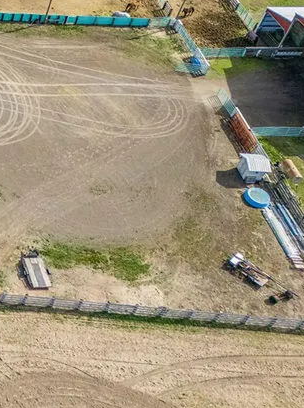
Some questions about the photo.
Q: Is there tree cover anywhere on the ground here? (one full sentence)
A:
No, the picture contains no tree cover.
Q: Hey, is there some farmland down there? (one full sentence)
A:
Yes, farmland shows up in the scene.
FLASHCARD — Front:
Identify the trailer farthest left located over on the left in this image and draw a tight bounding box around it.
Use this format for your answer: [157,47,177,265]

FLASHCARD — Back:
[23,242,58,292]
